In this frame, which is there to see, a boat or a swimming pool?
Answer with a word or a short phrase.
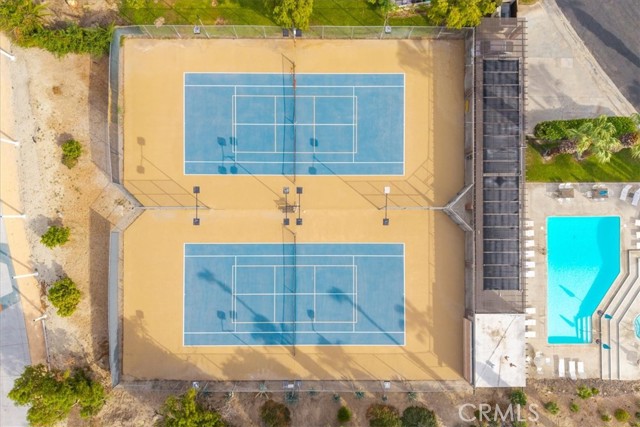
swimming pool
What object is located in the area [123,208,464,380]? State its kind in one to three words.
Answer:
tennis court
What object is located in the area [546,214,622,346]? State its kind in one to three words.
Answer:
swimming pool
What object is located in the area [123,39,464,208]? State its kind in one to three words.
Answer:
tennis court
